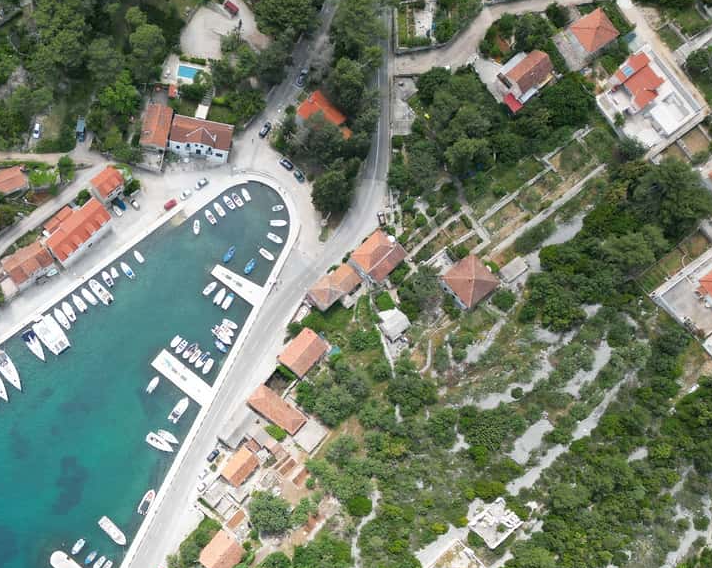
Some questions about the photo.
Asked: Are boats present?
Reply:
Yes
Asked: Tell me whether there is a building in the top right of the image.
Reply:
Yes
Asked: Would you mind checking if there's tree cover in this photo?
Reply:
Yes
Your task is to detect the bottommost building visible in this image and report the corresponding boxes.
[199,530,243,568]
